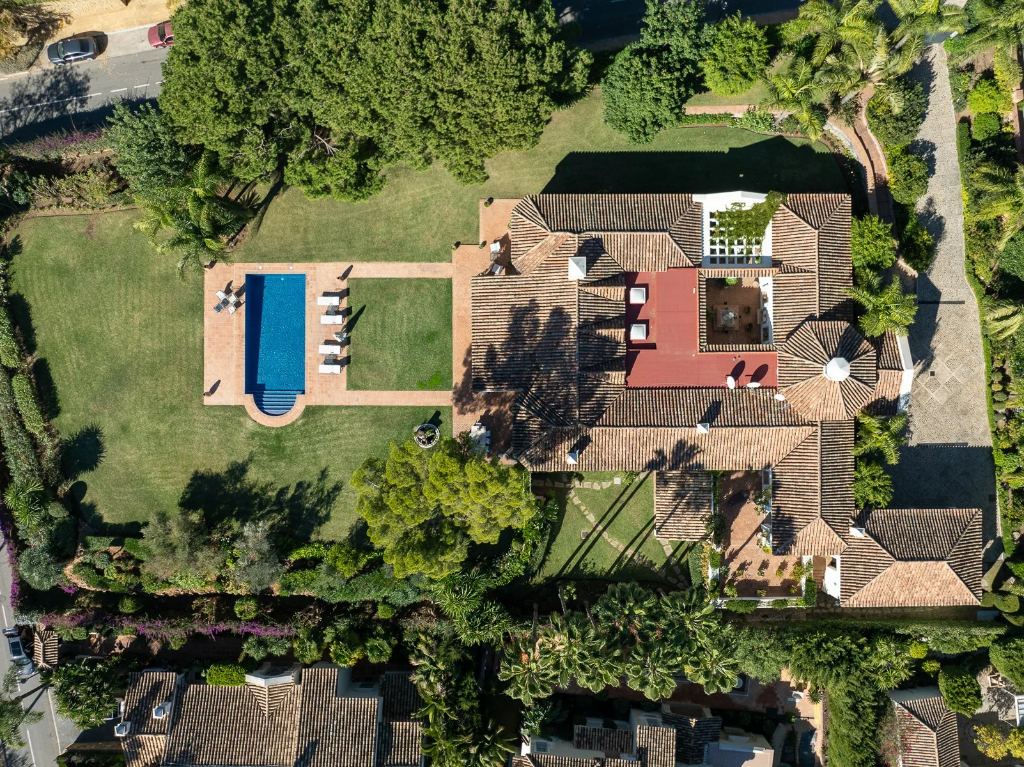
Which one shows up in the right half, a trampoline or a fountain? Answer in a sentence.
The feature located in the right half is a fountain.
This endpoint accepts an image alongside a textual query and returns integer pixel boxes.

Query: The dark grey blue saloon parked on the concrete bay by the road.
[42,33,96,64]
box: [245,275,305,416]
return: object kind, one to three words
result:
swimming pool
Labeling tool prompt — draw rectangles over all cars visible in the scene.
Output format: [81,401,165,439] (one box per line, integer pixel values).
[0,628,35,683]
[42,33,96,64]
[142,16,194,46]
